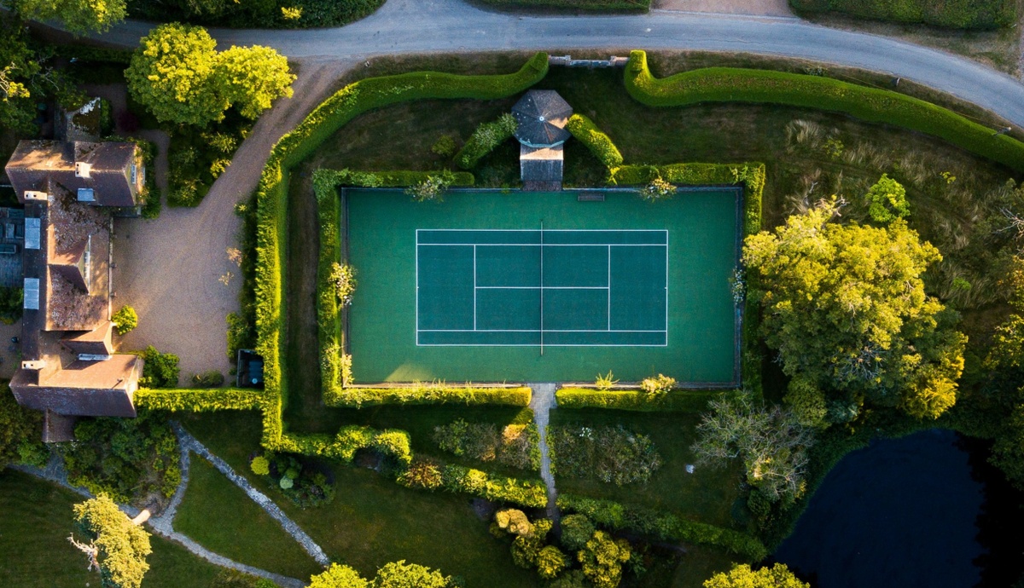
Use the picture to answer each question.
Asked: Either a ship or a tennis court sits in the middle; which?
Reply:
tennis court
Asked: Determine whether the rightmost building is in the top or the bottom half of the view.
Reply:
top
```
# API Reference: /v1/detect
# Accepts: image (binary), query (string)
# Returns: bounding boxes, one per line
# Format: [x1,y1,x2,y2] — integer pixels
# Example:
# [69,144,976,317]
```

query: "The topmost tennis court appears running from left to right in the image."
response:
[349,192,736,383]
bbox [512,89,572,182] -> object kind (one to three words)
building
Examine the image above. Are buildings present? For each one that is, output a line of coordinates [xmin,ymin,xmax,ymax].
[1,139,155,446]
[512,89,572,182]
